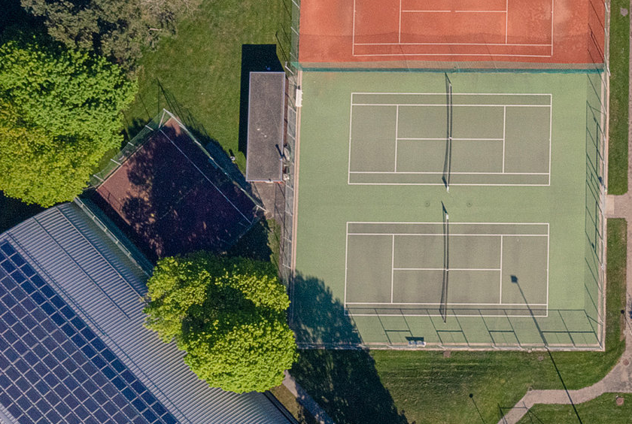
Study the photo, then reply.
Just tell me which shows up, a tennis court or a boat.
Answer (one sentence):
Of the two, only a tennis court appears.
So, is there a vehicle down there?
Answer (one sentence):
No, there is no vehicle in the image.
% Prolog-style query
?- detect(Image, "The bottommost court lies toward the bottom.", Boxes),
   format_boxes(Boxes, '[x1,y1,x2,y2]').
[294,203,605,344]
